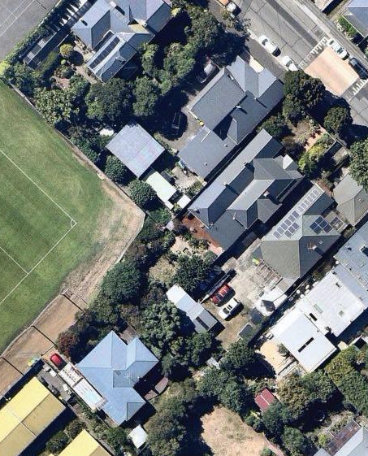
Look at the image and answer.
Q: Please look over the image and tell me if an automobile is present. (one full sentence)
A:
Yes, the picture does show an automobile.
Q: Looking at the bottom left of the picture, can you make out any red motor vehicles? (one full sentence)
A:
Yes, at the bottom left of the picture there is a red motor vehicle.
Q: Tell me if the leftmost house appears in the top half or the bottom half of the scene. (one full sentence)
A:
You can find the leftmost house in the bottom half.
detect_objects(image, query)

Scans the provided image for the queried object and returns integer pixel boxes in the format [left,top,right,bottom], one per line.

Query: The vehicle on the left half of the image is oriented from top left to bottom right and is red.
[47,351,66,370]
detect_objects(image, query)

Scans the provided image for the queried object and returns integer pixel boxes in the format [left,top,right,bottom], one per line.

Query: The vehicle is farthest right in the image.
[348,56,368,81]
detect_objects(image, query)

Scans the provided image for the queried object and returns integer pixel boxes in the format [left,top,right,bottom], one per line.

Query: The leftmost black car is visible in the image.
[167,108,183,133]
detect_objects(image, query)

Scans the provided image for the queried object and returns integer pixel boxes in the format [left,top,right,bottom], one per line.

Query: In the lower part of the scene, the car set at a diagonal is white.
[220,298,240,318]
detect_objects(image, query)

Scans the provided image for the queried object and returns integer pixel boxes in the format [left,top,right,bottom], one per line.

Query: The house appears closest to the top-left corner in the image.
[70,0,173,82]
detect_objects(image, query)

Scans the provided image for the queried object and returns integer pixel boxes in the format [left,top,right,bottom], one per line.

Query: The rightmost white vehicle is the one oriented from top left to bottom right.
[327,37,349,61]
